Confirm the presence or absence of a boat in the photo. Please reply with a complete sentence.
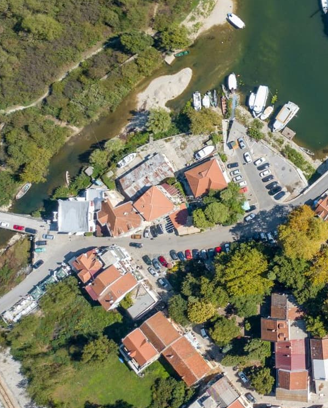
Yes, there is a boat in the image.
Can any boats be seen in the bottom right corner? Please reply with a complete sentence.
No, no boat can be made out in the bottom right corner.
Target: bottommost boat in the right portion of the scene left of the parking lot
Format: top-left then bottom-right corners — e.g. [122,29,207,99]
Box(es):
[193,146,213,161]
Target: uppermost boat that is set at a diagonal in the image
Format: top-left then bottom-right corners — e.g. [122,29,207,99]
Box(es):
[225,11,243,27]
